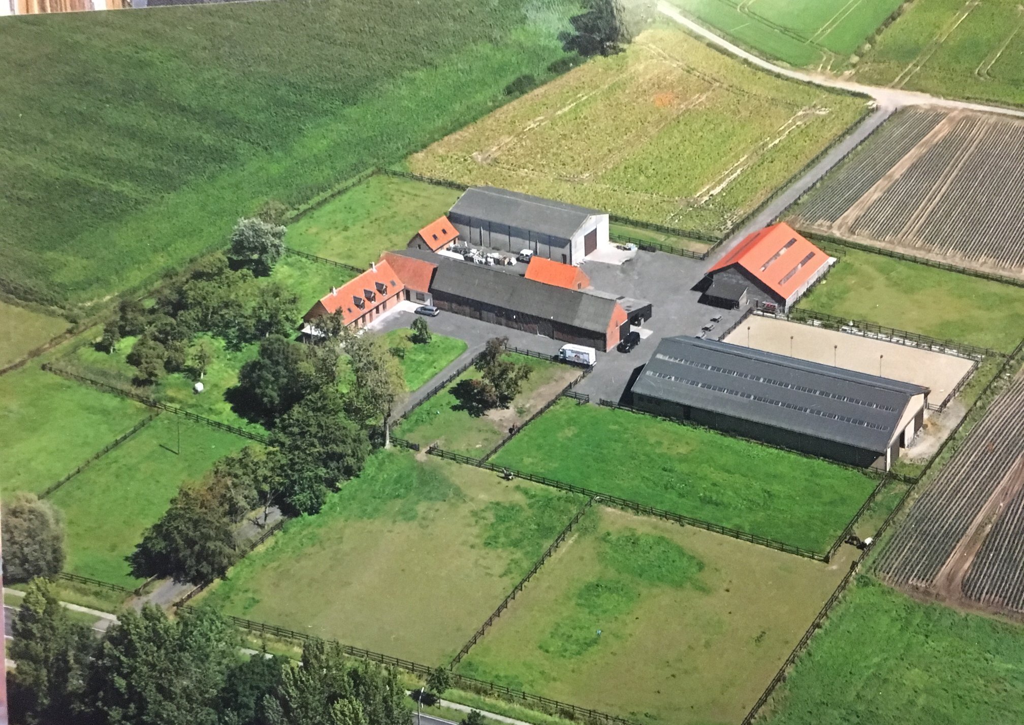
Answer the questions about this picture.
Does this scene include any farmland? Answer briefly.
Yes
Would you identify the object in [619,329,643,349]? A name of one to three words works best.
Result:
car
